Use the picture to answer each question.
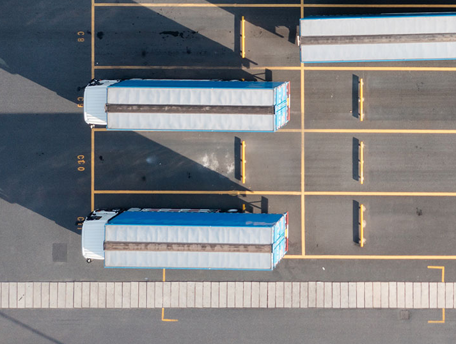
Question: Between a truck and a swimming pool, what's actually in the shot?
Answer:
truck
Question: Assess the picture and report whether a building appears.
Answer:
No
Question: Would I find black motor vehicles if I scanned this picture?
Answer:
No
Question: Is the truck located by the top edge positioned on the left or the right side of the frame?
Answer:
right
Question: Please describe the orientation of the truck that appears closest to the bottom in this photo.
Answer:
from left to right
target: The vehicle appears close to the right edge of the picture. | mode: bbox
[300,13,456,62]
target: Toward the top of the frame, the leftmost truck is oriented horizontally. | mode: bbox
[76,78,292,132]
